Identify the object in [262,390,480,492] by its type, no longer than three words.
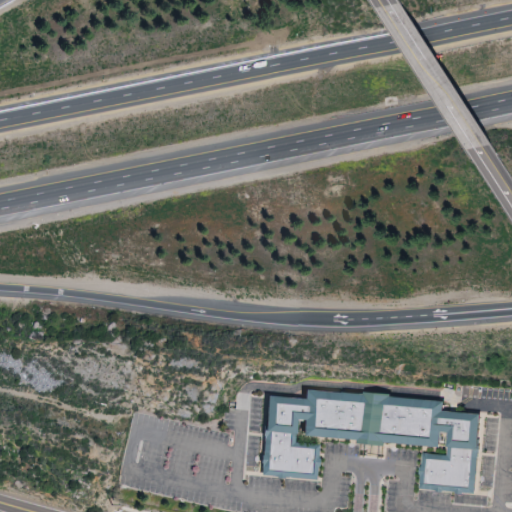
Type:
building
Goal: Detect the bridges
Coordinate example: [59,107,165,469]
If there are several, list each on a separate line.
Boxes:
[372,0,492,154]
